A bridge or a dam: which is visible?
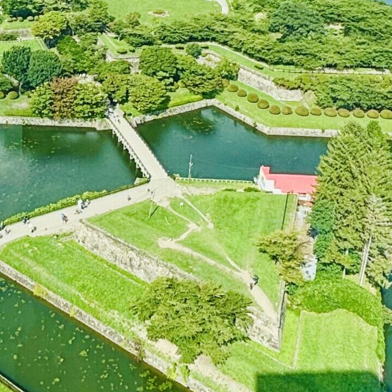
bridge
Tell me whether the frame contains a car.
No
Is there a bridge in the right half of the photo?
No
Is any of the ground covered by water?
Yes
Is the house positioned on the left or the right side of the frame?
right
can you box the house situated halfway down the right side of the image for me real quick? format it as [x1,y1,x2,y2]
[255,154,323,197]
